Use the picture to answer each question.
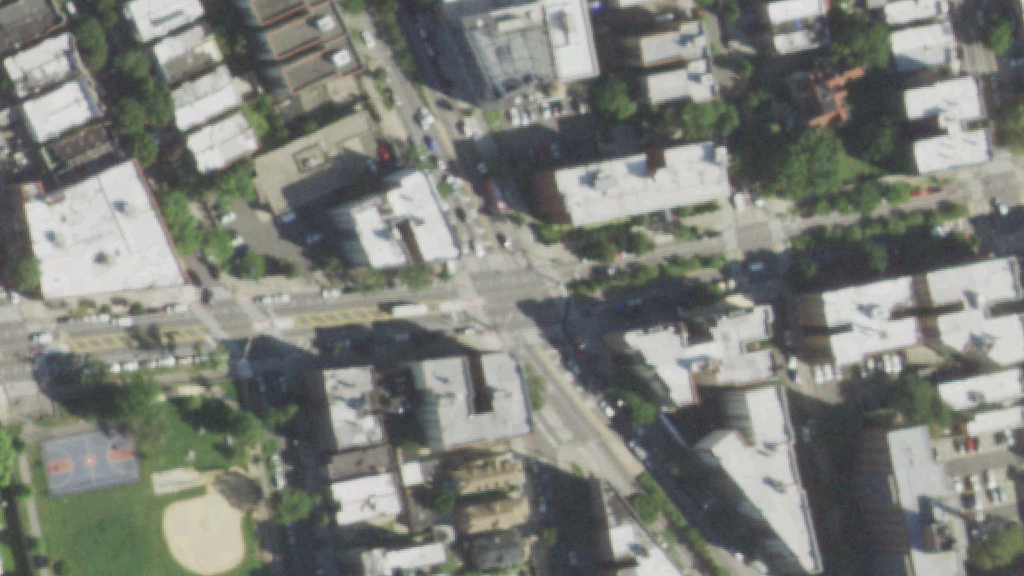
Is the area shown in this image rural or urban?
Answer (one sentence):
It looks urban.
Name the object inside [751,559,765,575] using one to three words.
vehicle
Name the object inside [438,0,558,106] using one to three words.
building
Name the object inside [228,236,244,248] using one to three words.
vehicle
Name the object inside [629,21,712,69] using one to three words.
house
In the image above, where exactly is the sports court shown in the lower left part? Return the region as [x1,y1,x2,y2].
[42,432,139,497]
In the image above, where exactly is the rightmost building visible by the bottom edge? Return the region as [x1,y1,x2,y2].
[851,427,973,576]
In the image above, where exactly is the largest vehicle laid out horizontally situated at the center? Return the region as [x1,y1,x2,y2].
[390,304,431,316]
